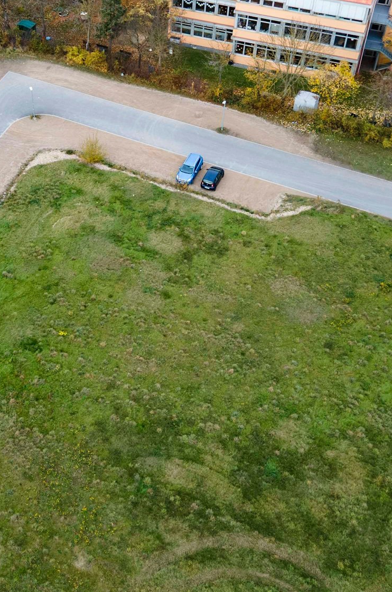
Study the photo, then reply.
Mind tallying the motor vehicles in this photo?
2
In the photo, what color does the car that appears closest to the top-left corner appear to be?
blue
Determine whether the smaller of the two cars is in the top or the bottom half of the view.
top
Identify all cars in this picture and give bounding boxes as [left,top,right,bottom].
[179,152,207,185]
[202,164,226,189]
